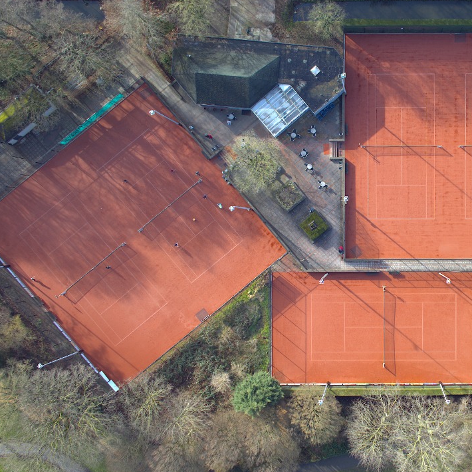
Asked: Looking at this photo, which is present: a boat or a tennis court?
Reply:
tennis court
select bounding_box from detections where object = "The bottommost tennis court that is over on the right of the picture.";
[272,272,472,386]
